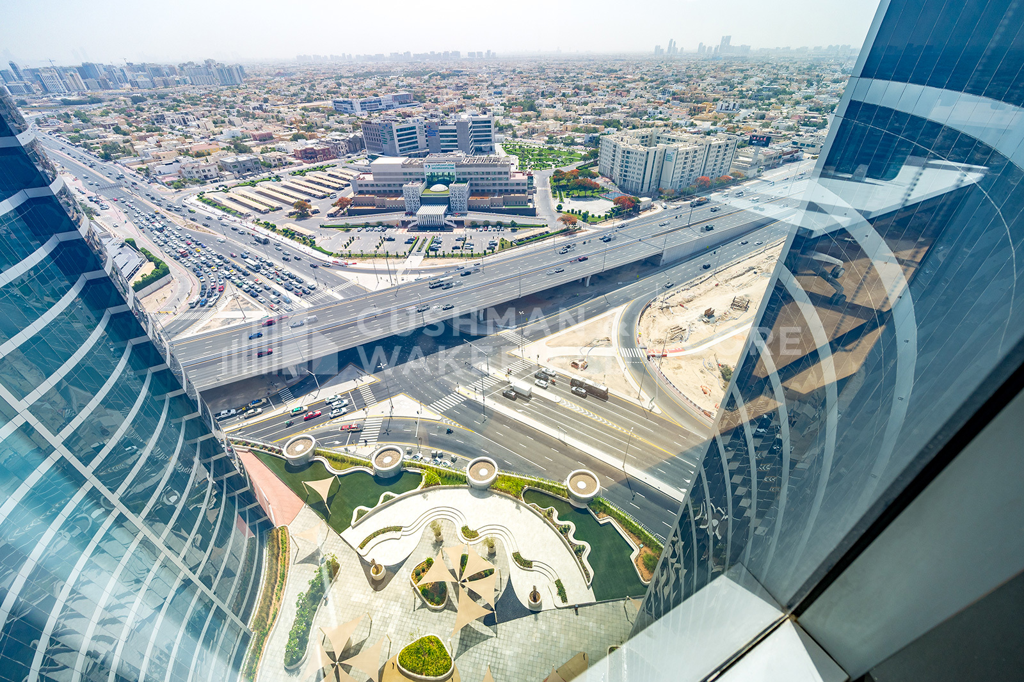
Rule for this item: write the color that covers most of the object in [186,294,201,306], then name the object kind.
white vehicle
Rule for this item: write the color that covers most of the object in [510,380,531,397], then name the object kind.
white vehicle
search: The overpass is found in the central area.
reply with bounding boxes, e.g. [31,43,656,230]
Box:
[170,146,831,392]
